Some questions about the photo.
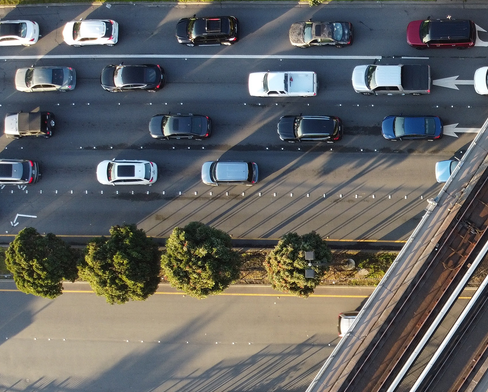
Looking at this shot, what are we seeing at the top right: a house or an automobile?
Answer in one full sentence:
What appears at the top right is an automobile.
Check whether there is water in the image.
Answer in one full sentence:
No, water can't be seen anywhere here.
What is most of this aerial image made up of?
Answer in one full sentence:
Most of the picture is covered by paved ground.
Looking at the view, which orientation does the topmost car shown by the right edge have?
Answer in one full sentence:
From this overhead view, the topmost car shown by the right edge appears to run from left to right.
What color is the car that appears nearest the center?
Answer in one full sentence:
In this view, the car that appears nearest the center is blue.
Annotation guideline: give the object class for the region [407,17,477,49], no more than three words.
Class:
car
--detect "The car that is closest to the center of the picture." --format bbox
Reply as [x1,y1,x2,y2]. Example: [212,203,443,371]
[202,157,260,187]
